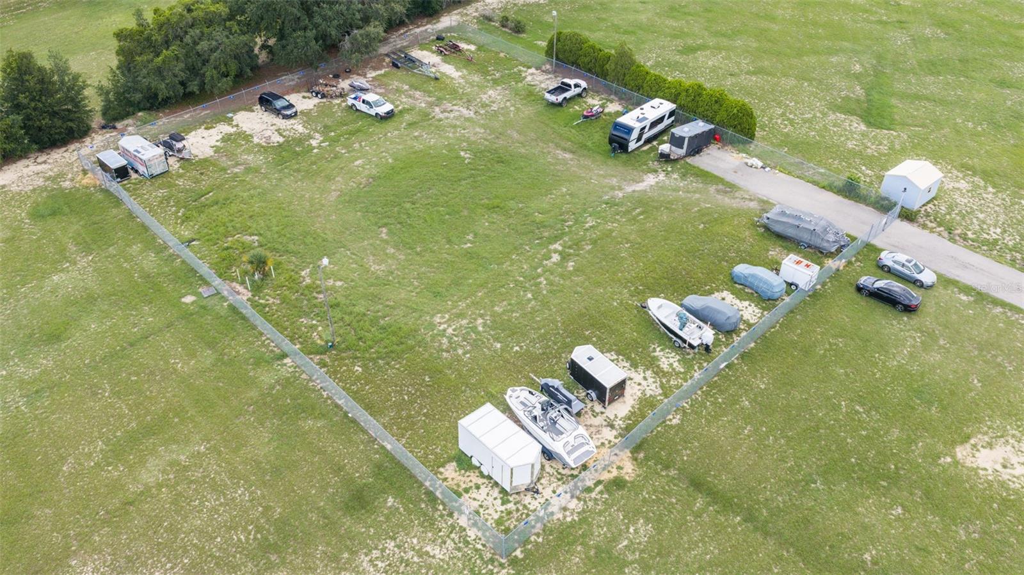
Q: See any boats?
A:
Yes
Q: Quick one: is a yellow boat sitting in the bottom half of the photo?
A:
No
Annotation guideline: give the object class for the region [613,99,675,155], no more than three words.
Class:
camper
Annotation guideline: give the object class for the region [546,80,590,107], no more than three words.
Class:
truck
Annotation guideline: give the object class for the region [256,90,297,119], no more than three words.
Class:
car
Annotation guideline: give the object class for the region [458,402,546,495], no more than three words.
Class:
trailer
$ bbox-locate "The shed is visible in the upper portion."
[880,160,944,208]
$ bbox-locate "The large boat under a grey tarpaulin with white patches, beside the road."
[760,207,848,258]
